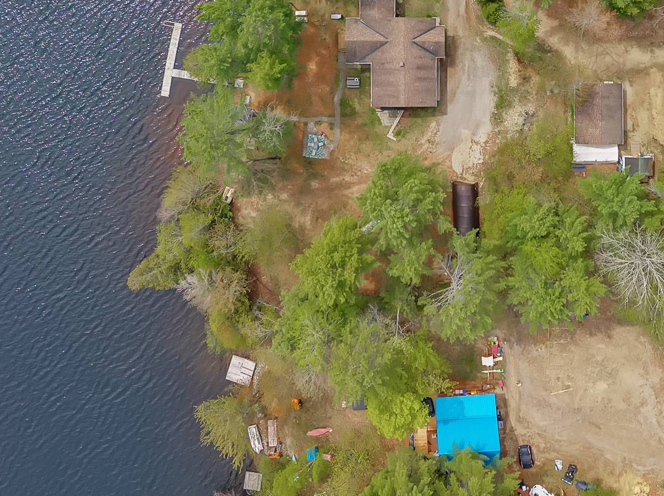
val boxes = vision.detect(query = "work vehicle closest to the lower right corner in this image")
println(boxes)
[560,466,577,487]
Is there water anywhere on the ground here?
Yes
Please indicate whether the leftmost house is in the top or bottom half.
top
